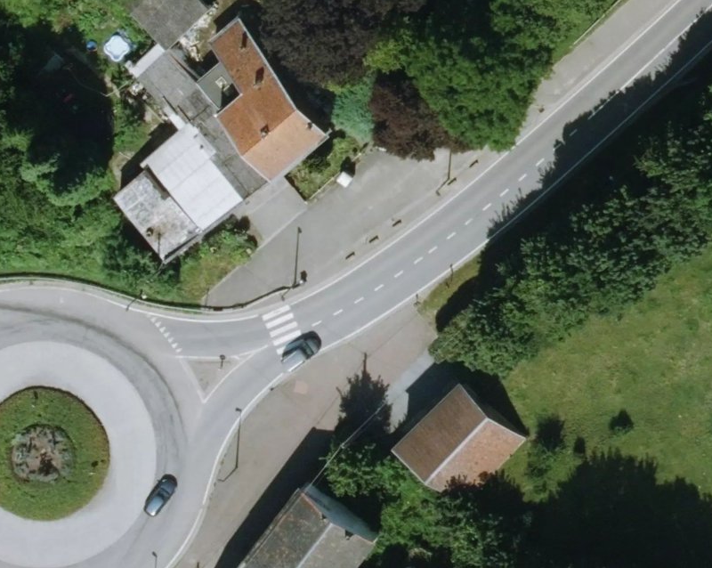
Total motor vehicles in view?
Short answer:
2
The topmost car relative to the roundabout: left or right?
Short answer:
right of it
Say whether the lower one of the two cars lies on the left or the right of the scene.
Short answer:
left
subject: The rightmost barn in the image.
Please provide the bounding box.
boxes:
[391,378,526,501]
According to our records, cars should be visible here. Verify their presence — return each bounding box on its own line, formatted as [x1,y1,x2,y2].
[144,474,178,517]
[279,330,325,367]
